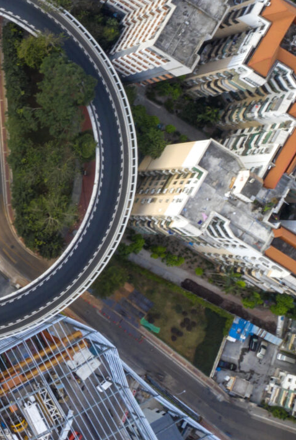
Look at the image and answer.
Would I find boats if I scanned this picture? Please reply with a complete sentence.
No, I can see no boat in this picture.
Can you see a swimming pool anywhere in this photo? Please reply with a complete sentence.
No, I can't see a single swimming pool in this photo.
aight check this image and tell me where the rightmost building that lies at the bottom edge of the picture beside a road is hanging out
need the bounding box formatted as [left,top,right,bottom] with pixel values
[238,357,296,418]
